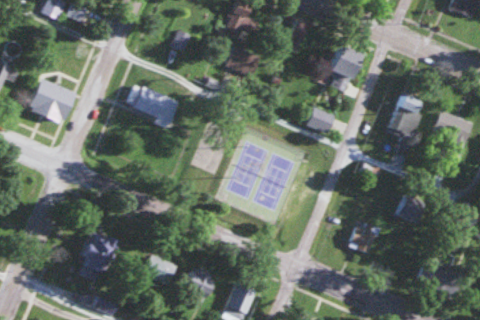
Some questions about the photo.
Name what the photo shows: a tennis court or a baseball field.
tennis court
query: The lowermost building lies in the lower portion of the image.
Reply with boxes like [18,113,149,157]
[218,284,256,320]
